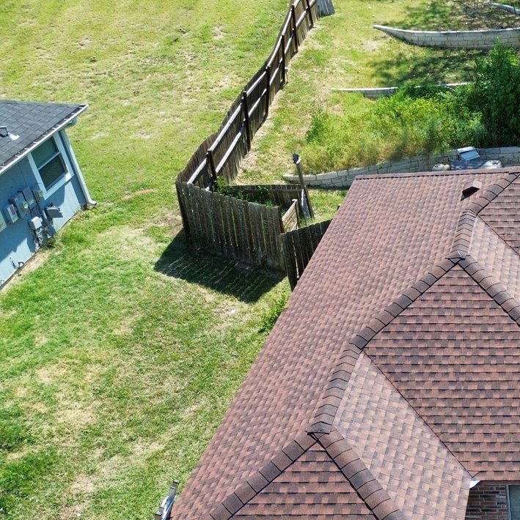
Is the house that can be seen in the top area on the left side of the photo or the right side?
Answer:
left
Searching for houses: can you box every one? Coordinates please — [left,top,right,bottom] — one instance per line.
[0,103,99,287]
[165,172,520,520]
